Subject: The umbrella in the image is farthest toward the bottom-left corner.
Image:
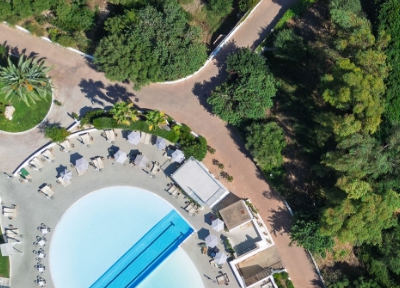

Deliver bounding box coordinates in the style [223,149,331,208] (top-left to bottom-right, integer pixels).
[1,241,23,263]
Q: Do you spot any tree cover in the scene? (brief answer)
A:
Yes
